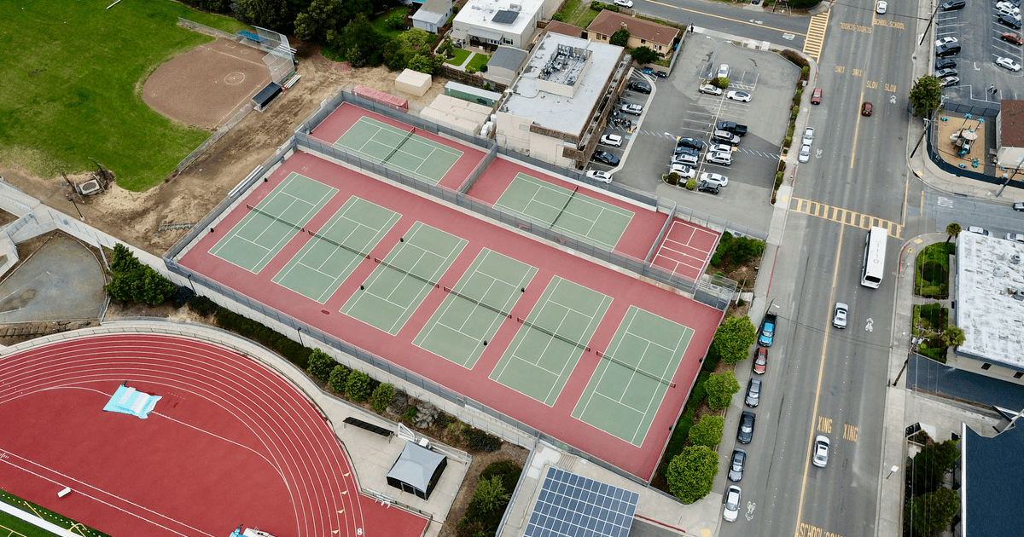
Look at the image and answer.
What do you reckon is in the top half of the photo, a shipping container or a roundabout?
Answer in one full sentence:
Visible in the top half of the photo is a shipping container.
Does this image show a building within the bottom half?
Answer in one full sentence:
Yes, there is a building within the bottom half.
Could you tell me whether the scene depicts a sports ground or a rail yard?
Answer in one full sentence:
This looks like a sports ground.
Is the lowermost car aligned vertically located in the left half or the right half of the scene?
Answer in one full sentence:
The lowermost car aligned vertically is on the right side of the image.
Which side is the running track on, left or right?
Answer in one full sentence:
It is on the left.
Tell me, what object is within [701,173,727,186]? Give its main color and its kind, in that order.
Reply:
white vehicle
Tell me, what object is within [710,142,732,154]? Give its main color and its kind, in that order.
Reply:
white vehicle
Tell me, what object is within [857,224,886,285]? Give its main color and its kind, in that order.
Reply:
white bus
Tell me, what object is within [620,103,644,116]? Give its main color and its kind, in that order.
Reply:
gray vehicle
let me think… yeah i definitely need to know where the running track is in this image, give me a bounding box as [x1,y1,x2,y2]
[0,331,429,537]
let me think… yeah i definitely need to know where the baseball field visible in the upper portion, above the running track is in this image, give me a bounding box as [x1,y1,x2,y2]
[0,0,286,193]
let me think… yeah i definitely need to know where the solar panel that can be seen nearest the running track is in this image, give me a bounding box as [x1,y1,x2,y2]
[524,468,639,537]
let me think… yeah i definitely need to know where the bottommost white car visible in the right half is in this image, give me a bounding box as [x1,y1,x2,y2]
[722,485,742,521]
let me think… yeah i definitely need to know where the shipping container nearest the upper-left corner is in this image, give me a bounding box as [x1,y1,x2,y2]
[352,85,409,111]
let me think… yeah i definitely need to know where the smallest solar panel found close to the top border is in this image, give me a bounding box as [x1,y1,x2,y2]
[492,9,519,24]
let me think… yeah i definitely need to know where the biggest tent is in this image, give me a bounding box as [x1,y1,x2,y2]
[387,441,447,501]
